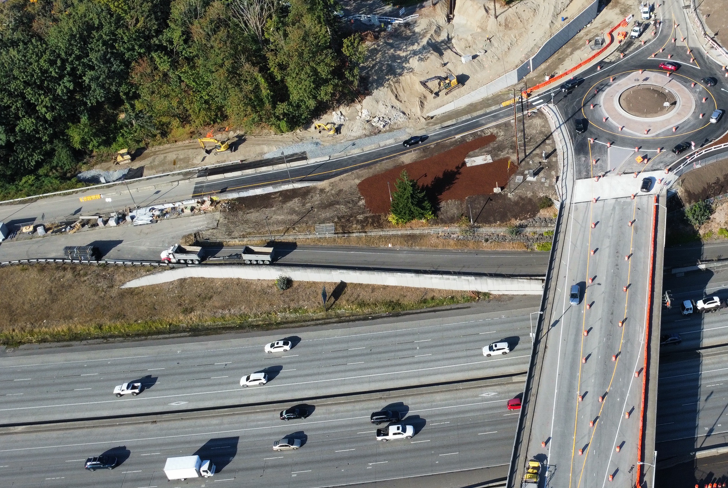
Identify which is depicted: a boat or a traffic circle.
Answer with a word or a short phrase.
traffic circle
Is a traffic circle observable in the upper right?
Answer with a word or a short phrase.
Yes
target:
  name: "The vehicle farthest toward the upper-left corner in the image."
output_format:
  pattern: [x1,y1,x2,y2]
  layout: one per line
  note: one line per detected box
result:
[107,147,137,168]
